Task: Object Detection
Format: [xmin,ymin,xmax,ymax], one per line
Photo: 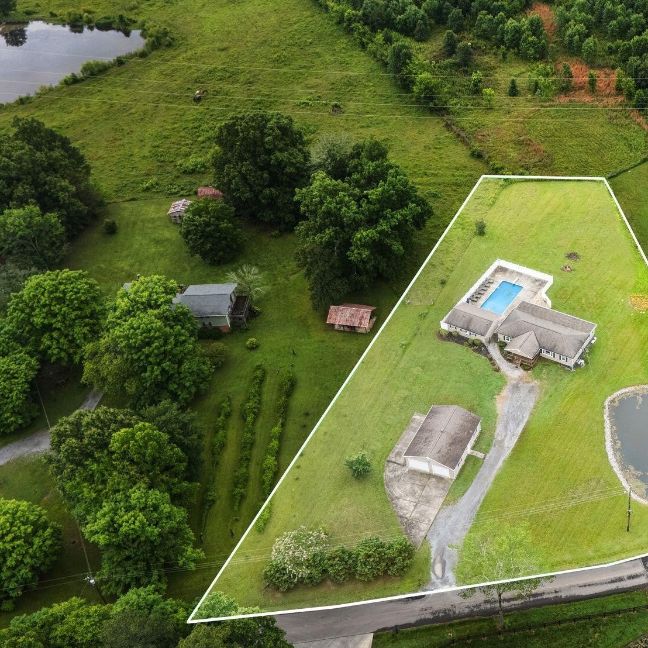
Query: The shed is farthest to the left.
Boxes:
[161,202,191,228]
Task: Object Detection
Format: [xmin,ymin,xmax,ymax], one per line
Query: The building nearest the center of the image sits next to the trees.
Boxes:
[326,301,381,333]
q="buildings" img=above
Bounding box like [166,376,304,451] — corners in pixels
[194,184,222,201]
[402,405,482,478]
[161,202,191,228]
[161,287,253,333]
[326,301,381,333]
[443,301,598,371]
